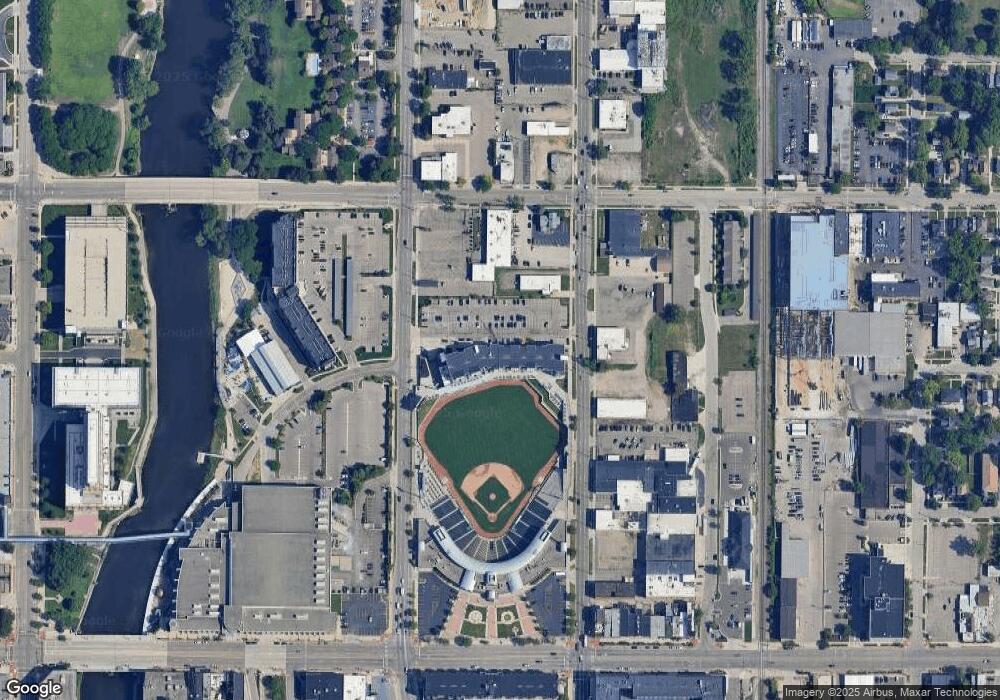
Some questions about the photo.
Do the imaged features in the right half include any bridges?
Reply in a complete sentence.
No, no bridge can be made out in the right half.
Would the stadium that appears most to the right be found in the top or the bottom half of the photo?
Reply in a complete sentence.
It is in the bottom half that the stadium that appears most to the right appears.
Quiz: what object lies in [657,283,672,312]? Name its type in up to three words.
shed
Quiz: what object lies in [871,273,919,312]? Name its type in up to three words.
building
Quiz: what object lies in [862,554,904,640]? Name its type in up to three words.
building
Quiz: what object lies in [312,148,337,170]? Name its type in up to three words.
house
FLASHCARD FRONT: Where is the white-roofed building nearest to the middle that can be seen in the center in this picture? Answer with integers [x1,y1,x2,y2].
[521,275,561,294]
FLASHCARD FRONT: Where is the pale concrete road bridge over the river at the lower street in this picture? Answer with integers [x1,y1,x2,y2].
[45,633,166,673]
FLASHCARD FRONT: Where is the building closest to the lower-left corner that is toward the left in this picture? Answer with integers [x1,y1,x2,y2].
[36,671,76,700]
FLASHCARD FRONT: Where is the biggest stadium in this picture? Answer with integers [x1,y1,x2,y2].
[415,368,569,598]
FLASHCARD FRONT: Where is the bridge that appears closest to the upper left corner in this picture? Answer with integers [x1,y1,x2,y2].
[125,177,259,208]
